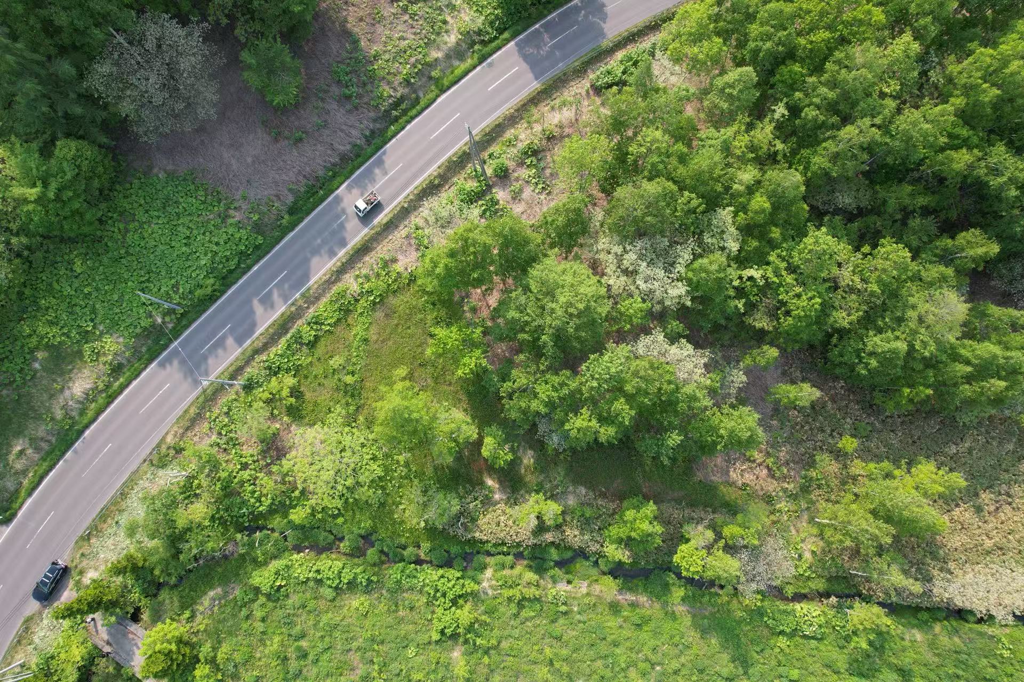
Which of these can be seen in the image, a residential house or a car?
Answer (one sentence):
I can see a car in this picture.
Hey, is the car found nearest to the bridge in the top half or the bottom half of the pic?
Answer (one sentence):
Seen from above, the car found nearest to the bridge lies in the bottom half of the view.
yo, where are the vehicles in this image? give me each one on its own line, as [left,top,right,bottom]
[36,559,71,602]
[354,190,381,217]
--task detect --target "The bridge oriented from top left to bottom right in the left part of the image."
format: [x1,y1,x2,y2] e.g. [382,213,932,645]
[87,607,181,682]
